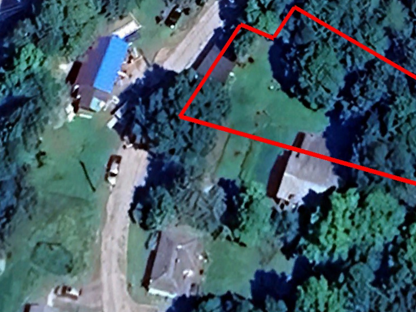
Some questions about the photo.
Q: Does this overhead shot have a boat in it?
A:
No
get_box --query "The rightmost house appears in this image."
[278,130,354,214]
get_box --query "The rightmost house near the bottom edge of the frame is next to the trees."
[144,229,205,301]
